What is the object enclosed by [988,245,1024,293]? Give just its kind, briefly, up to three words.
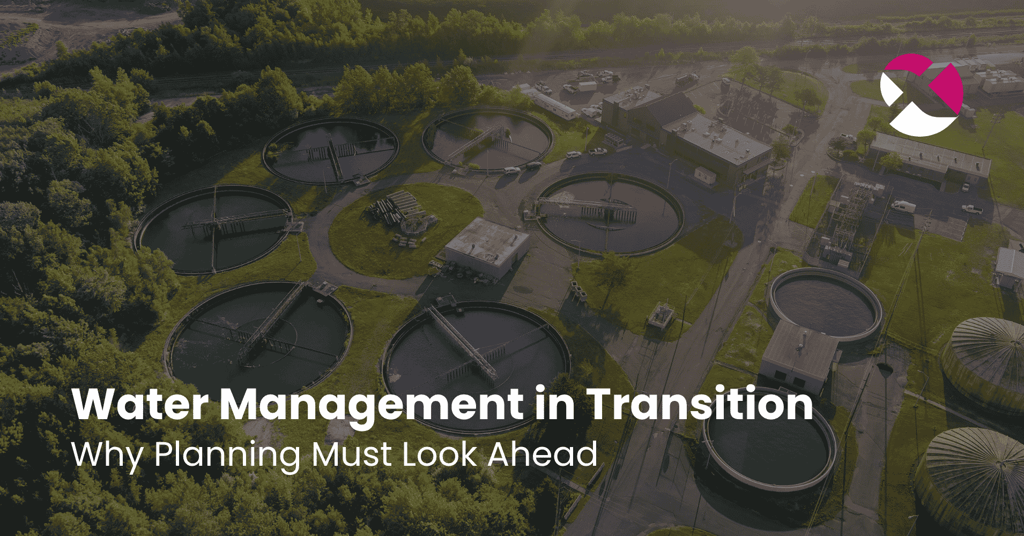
shed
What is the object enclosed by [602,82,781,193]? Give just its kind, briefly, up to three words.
building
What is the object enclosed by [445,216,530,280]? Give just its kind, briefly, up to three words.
building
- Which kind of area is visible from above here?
industrial area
